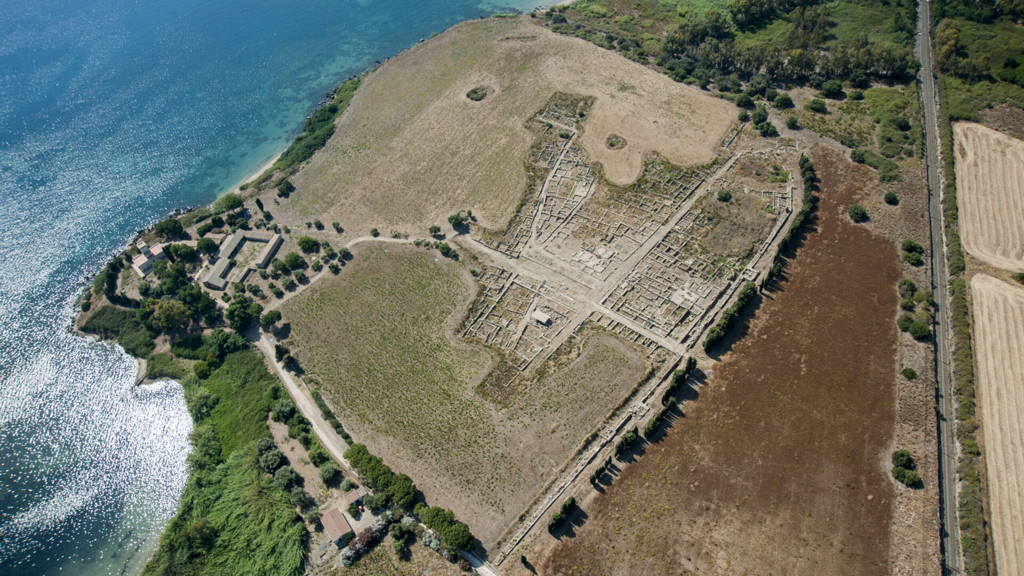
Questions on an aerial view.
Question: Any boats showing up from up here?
No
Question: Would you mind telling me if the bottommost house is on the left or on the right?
left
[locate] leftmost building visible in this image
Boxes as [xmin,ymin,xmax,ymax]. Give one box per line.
[132,241,167,278]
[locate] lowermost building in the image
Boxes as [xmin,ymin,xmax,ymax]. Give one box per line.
[320,509,351,543]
